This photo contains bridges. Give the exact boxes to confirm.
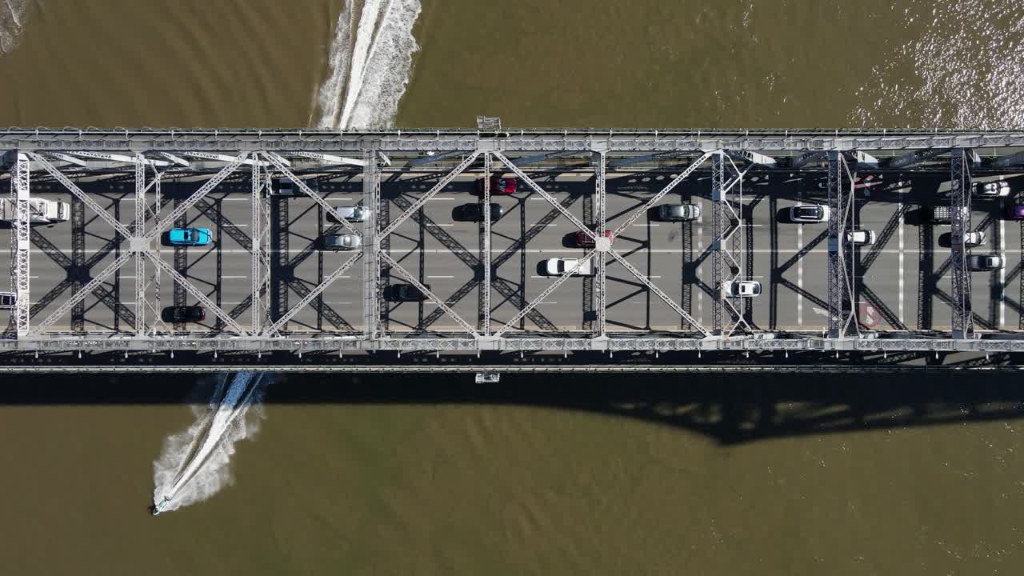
[0,123,1024,374]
